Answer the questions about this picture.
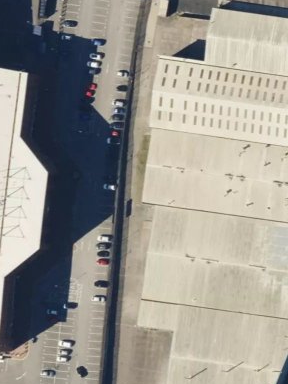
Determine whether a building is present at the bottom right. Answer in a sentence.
Yes, a building appears at the bottom right.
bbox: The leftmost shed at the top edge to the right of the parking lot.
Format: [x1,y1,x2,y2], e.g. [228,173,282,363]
[145,0,170,47]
